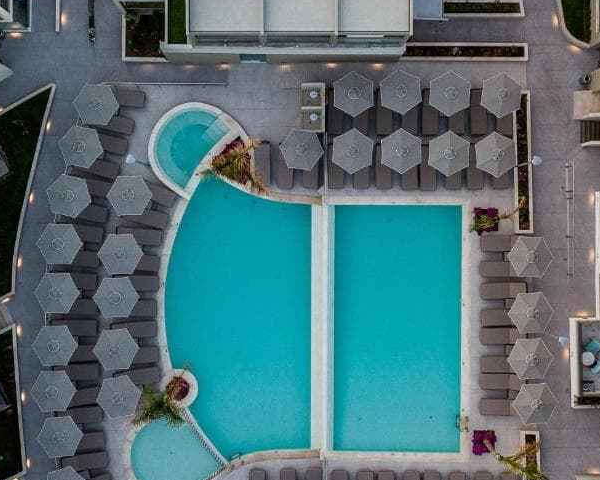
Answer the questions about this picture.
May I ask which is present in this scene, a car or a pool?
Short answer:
pool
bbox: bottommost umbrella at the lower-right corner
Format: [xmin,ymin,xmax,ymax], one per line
[510,381,556,425]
